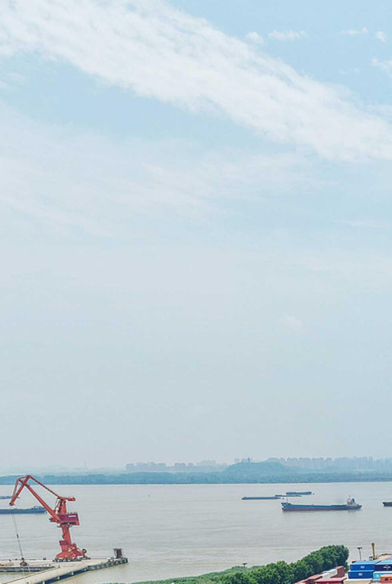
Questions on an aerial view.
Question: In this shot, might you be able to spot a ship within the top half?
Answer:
No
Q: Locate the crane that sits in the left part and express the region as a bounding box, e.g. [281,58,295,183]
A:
[6,469,84,562]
